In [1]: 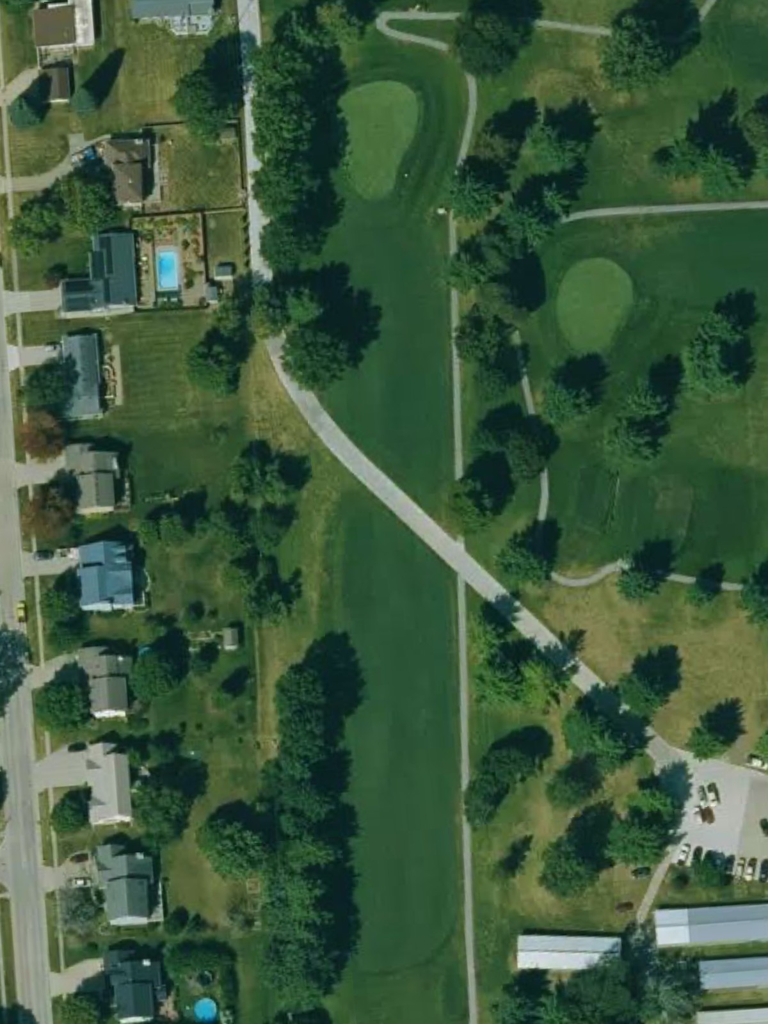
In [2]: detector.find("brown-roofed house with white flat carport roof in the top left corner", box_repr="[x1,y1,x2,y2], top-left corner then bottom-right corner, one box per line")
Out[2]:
[34,0,94,49]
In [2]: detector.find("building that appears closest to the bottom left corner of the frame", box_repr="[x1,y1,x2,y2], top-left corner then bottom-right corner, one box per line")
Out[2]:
[104,949,167,1021]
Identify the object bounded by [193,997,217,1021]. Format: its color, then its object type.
blue swimming pool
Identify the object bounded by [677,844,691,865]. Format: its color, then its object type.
white car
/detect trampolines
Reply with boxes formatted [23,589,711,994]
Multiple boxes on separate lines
[197,968,214,985]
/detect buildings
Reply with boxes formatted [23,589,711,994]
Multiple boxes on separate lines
[96,843,164,923]
[104,949,167,1021]
[63,332,101,420]
[66,442,130,514]
[517,934,621,971]
[62,230,137,316]
[208,285,218,304]
[654,900,768,946]
[699,953,768,990]
[216,263,232,279]
[224,627,238,650]
[77,644,132,716]
[34,0,94,49]
[87,740,132,824]
[107,138,151,210]
[131,0,213,36]
[78,540,147,610]
[221,124,236,140]
[49,65,70,104]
